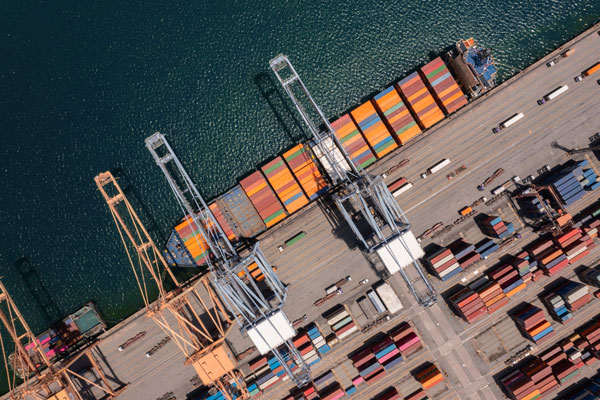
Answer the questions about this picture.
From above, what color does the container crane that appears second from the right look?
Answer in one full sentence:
The container crane that appears second from the right looks white in the image.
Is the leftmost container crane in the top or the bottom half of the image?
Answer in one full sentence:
The leftmost container crane sits in the bottom half of the picture.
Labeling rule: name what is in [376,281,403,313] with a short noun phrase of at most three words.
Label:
shed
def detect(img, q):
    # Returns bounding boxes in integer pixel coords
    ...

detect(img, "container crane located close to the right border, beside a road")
[513,176,578,236]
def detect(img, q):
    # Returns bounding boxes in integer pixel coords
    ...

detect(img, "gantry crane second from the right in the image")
[268,52,440,307]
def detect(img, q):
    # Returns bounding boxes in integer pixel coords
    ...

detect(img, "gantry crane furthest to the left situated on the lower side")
[0,281,135,400]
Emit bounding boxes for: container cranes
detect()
[90,169,256,400]
[268,52,440,307]
[513,176,578,236]
[0,281,135,400]
[141,131,313,387]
